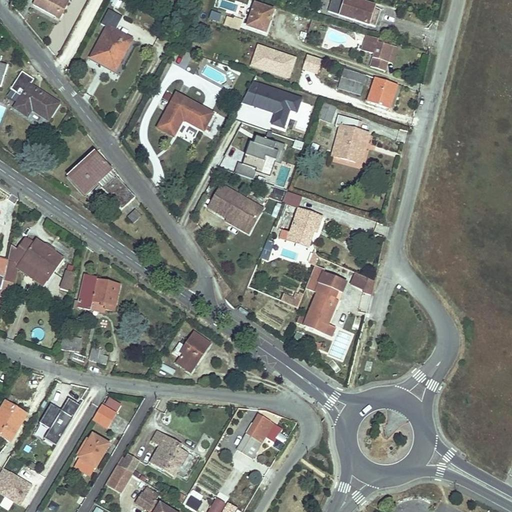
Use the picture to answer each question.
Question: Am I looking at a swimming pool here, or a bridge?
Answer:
swimming pool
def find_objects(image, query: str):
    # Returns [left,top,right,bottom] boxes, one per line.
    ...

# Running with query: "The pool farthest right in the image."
[322,28,365,48]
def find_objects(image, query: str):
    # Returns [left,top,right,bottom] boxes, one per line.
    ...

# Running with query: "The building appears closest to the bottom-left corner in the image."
[0,468,32,506]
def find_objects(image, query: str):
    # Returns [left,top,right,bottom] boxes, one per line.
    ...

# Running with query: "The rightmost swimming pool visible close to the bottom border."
[184,490,204,512]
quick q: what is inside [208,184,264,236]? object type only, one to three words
house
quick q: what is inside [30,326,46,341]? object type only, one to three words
swimming pool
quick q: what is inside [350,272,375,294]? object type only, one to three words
building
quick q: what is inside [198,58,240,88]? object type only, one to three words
swimming pool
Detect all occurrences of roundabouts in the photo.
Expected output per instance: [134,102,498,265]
[300,372,462,512]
